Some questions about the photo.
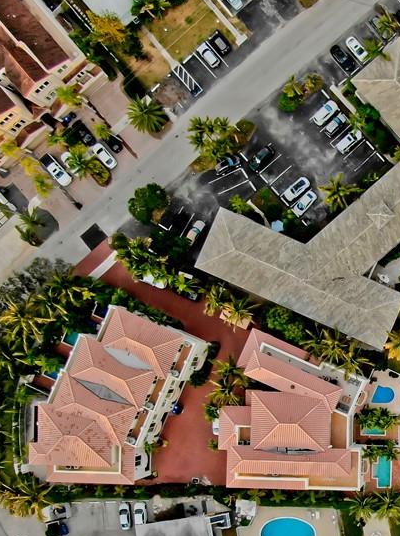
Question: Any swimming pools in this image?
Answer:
Yes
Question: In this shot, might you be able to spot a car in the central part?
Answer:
Yes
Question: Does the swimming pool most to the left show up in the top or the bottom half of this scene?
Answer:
bottom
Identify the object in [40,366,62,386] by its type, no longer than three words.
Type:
swimming pool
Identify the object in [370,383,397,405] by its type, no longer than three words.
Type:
swimming pool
